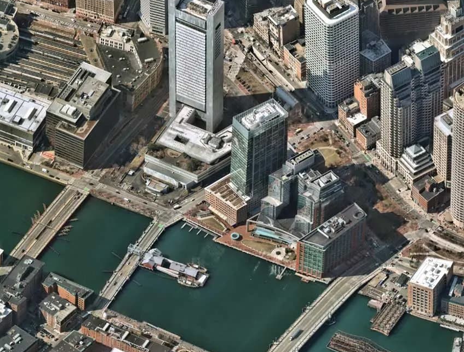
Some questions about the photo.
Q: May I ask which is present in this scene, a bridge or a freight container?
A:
bridge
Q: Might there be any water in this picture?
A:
Yes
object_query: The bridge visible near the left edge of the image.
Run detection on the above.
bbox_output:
[5,184,90,264]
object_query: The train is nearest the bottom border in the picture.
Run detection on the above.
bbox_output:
[0,71,43,84]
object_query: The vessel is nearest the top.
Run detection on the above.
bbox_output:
[188,258,207,272]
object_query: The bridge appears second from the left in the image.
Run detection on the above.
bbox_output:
[103,219,165,304]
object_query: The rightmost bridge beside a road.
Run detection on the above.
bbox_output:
[264,261,386,352]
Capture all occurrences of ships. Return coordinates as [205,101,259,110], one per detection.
[451,337,461,352]
[179,274,200,289]
[188,258,207,272]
